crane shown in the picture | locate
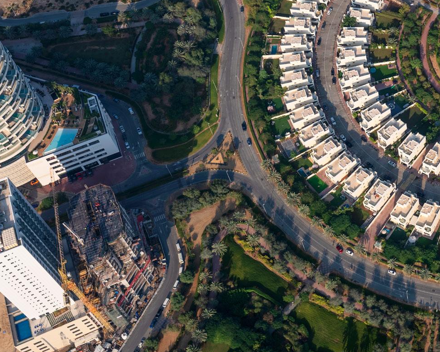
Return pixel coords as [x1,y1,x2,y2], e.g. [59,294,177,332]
[50,182,116,336]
